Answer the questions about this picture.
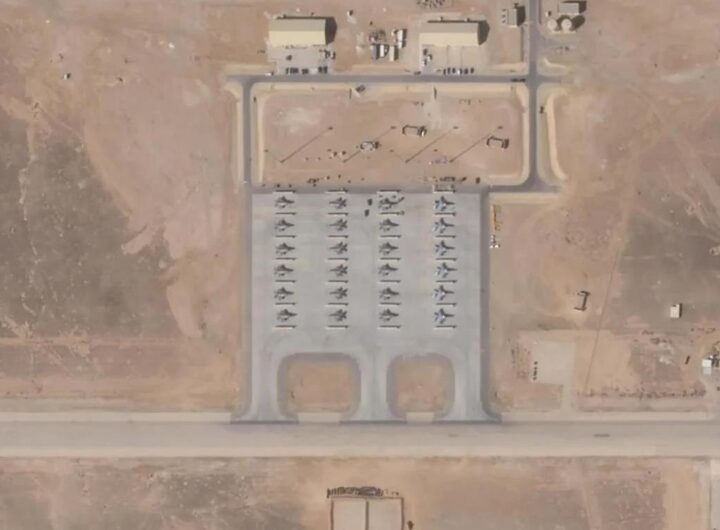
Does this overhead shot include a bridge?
No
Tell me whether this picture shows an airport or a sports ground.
airport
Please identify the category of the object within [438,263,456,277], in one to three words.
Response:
airplane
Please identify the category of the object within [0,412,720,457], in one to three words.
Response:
runway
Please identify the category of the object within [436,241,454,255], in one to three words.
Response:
airplane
